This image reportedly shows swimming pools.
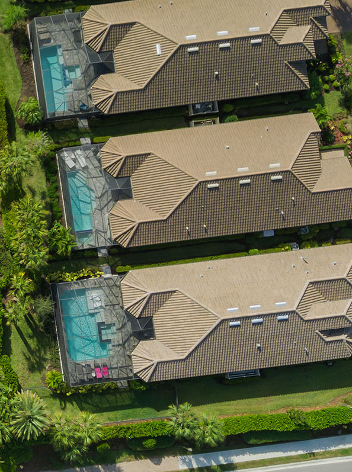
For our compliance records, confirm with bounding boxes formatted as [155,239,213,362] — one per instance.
[60,288,118,363]
[40,44,85,113]
[67,169,98,246]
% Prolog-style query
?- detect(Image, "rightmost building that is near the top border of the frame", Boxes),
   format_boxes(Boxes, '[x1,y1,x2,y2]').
[80,0,333,116]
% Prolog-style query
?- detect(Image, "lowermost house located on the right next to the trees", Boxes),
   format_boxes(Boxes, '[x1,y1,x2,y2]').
[118,242,352,380]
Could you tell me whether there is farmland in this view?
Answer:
No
